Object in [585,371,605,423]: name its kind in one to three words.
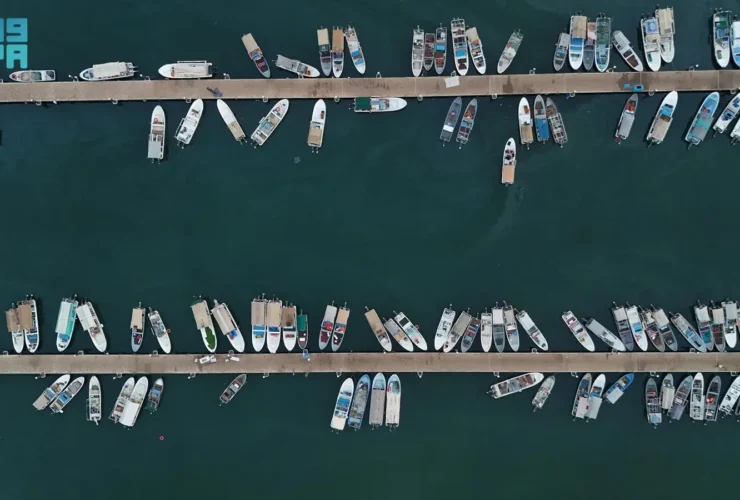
boat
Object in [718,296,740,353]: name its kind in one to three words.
boat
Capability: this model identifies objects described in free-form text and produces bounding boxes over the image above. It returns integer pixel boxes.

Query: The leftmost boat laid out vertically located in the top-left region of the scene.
[147,100,165,165]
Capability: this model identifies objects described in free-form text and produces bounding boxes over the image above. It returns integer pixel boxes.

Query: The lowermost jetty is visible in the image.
[0,348,740,379]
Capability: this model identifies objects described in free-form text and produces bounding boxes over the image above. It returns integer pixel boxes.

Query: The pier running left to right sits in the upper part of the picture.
[0,66,740,106]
